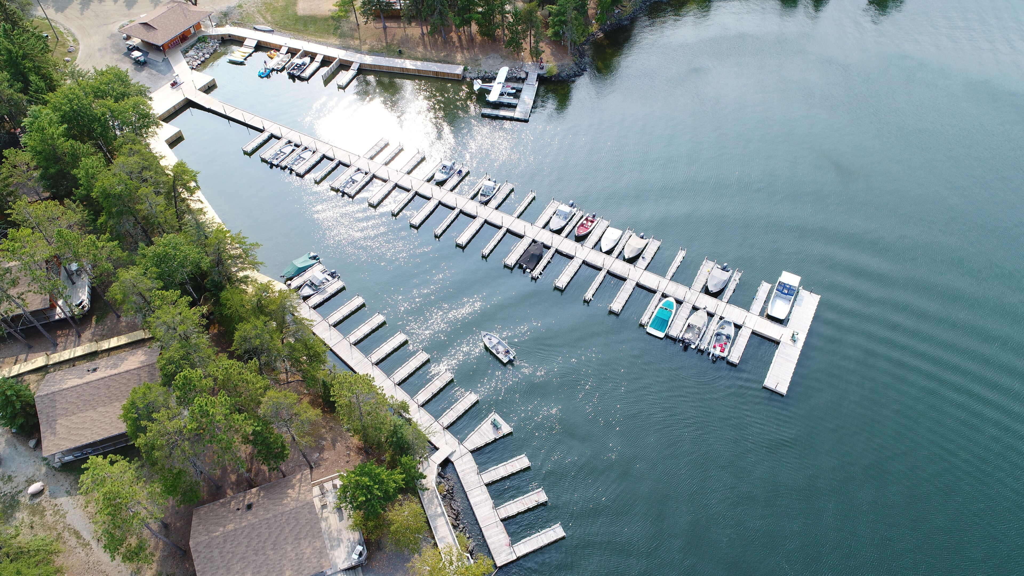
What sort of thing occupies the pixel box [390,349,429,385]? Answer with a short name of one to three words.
pier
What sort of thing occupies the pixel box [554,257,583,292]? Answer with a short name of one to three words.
pier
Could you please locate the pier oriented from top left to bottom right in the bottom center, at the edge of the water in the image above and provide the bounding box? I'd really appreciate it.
[297,302,518,567]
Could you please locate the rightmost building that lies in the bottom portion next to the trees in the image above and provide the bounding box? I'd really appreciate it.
[189,470,333,576]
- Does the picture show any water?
Yes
